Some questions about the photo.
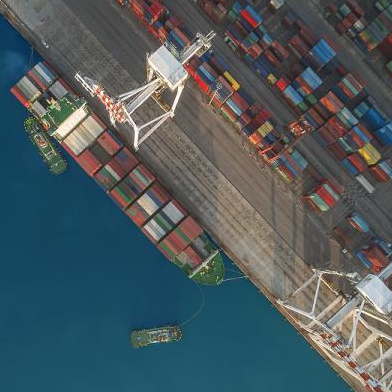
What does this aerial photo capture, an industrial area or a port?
port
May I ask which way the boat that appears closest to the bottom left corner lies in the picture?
from left to right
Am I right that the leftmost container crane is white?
Yes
